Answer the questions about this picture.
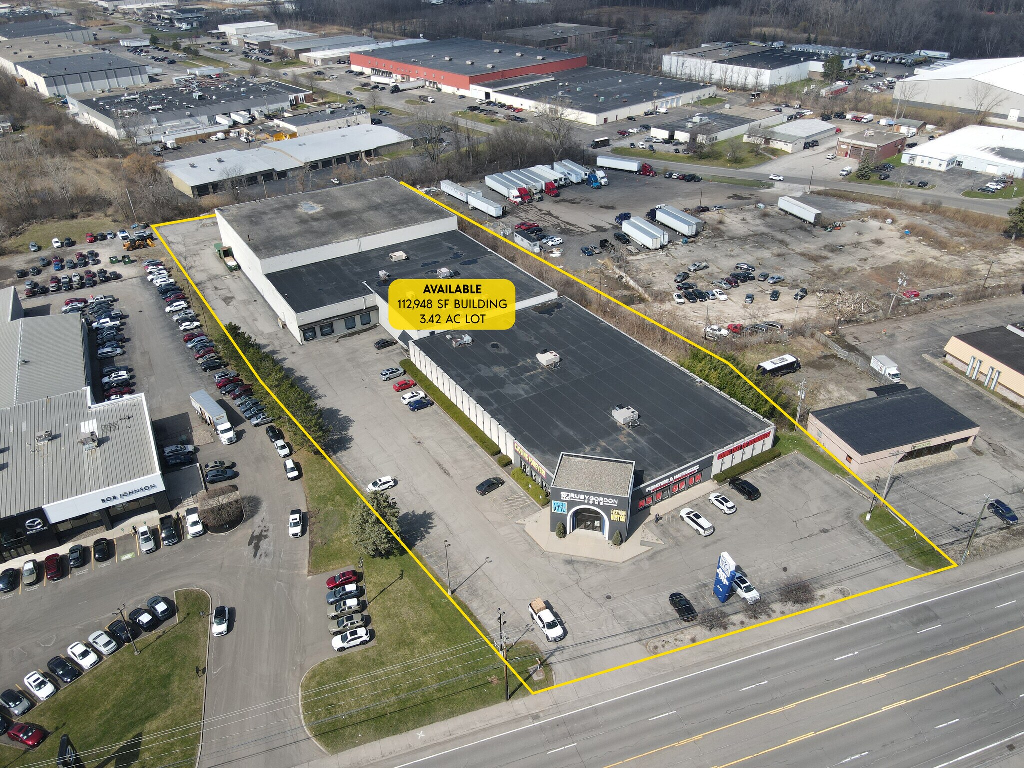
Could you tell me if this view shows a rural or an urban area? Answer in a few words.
urban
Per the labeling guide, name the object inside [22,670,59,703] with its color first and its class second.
white car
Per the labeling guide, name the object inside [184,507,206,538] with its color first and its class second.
white truck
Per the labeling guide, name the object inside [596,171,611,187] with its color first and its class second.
white vehicle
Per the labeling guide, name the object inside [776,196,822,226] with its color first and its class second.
white trailer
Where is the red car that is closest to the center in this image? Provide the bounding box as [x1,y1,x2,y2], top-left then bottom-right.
[391,381,419,394]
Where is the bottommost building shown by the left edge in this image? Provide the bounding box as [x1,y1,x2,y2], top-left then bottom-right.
[0,286,206,566]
